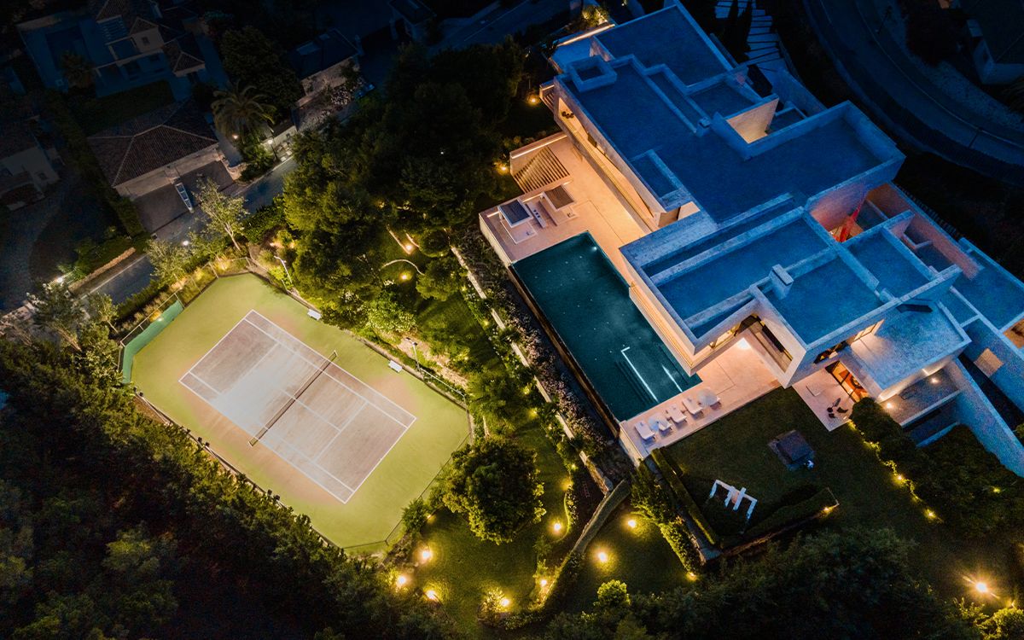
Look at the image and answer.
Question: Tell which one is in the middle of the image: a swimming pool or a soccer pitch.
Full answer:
Looking in the middle of the image, you will find a swimming pool.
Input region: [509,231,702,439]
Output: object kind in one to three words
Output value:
swimming pool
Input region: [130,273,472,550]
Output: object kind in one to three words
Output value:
tennis court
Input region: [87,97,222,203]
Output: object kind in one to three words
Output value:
building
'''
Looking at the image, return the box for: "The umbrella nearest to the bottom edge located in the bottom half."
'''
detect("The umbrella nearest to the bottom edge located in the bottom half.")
[645,406,666,430]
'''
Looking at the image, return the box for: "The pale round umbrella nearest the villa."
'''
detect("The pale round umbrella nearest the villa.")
[693,380,714,404]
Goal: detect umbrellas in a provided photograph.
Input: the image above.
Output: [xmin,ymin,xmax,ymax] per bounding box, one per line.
[693,380,714,404]
[645,406,666,430]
